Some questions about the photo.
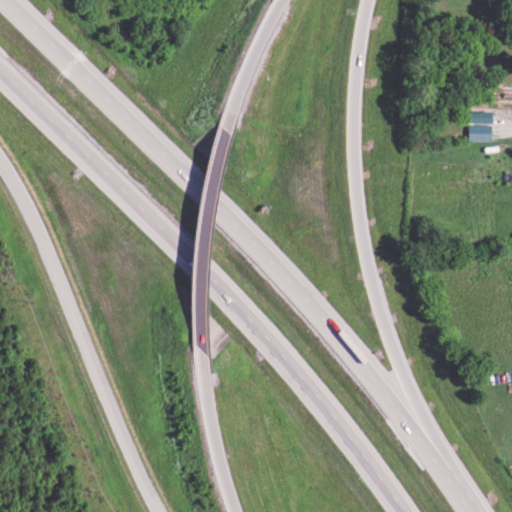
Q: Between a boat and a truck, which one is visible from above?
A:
truck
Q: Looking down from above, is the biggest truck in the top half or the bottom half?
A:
bottom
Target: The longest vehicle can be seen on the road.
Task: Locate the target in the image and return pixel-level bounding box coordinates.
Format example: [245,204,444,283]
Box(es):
[326,318,368,364]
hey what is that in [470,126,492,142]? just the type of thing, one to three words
shed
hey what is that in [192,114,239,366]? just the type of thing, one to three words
overpass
